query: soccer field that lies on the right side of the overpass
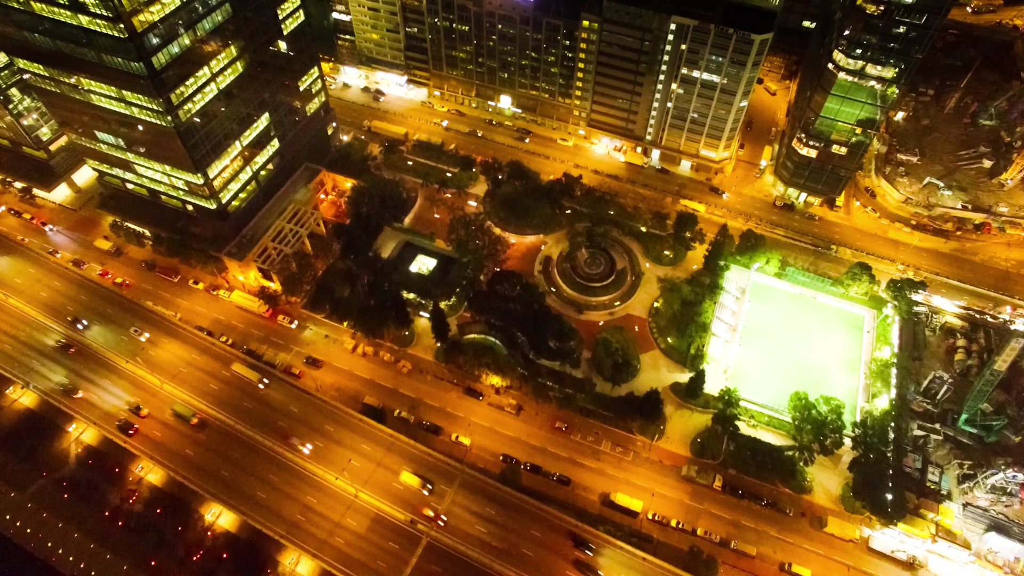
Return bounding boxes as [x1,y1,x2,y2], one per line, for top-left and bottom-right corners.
[727,280,866,443]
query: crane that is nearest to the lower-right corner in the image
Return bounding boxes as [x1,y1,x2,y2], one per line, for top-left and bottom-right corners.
[943,322,1024,453]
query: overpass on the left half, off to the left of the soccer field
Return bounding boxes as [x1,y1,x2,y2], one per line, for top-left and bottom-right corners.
[0,230,702,576]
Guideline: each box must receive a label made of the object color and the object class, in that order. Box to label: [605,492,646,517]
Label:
yellow truck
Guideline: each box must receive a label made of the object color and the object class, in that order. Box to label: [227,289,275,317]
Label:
yellow truck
